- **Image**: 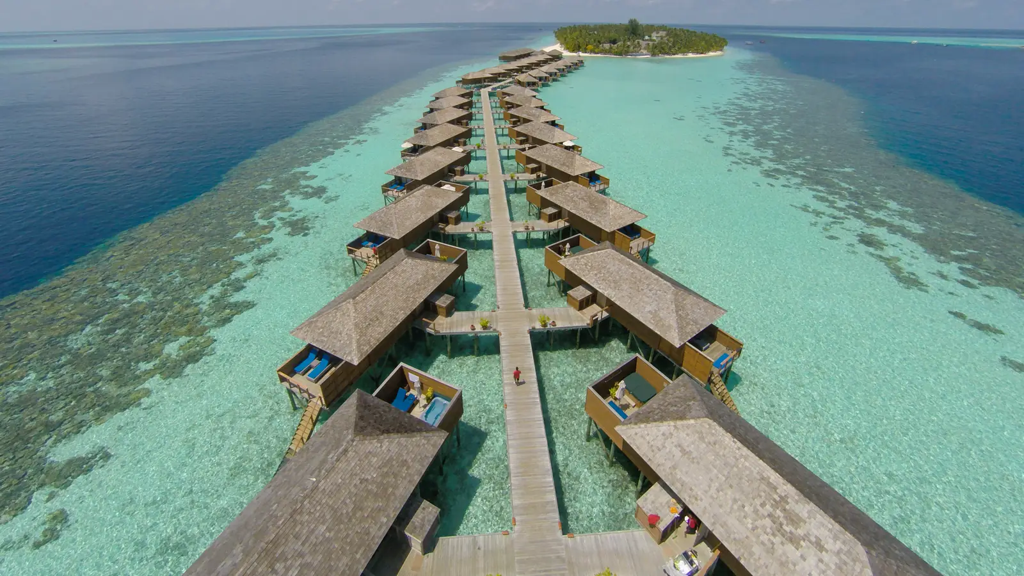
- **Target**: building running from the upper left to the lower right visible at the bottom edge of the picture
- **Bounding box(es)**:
[584,352,955,576]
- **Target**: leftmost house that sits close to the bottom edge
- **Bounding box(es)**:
[179,364,465,576]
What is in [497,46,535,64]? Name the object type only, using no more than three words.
building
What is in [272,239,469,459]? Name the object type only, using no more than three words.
house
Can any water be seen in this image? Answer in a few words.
Yes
